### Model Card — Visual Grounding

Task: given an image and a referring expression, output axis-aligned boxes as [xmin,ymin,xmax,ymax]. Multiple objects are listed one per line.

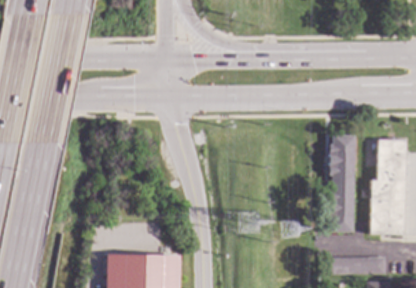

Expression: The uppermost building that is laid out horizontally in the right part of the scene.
[330,256,387,275]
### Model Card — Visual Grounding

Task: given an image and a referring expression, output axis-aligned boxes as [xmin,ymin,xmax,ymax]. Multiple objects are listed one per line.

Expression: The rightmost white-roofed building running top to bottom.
[367,138,408,235]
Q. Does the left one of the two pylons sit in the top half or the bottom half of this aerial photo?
bottom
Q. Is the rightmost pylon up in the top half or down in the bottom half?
bottom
